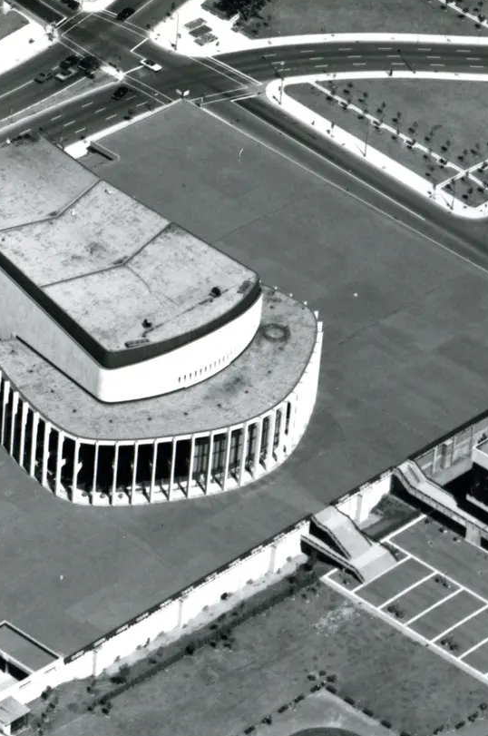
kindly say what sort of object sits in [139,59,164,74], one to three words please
car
